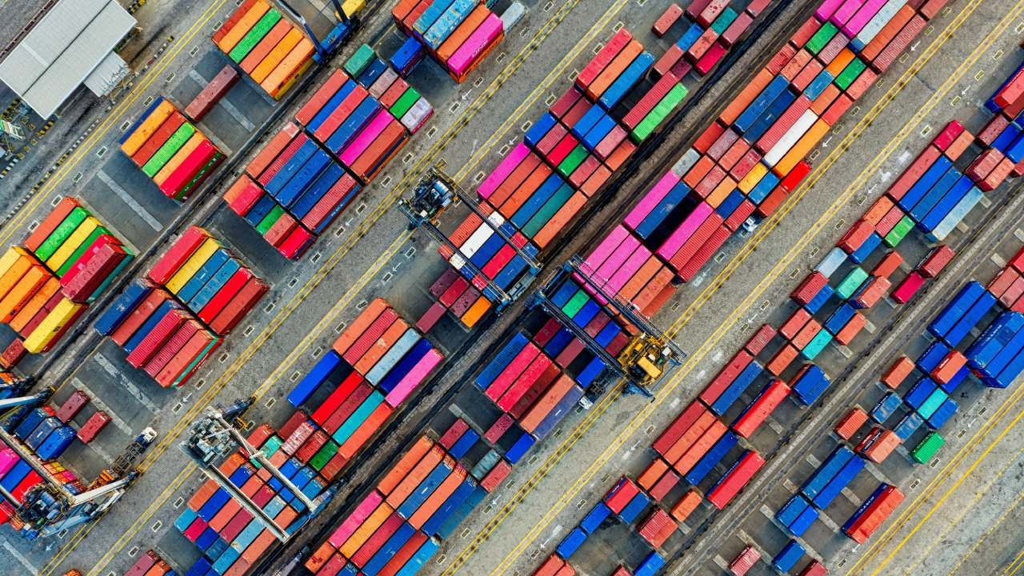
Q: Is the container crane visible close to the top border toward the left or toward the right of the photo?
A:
left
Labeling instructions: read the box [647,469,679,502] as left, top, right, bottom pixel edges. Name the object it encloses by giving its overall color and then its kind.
red shipping container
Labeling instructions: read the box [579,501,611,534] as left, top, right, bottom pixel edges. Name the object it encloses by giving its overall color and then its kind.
blue shipping container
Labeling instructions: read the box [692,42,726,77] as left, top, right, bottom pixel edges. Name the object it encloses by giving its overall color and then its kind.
red shipping container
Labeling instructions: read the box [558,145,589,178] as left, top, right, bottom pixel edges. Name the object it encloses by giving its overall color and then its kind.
green shipping container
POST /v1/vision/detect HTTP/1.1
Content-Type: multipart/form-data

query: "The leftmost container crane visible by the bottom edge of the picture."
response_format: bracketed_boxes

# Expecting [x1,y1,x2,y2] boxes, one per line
[0,381,149,549]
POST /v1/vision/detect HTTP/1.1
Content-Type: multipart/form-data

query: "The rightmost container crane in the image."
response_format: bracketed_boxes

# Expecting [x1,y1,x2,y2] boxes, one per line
[525,251,695,405]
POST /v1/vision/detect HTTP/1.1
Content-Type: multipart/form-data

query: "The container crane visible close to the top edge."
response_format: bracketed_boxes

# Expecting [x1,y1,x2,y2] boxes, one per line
[278,0,359,63]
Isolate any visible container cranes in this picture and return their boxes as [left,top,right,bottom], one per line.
[0,381,149,549]
[389,159,547,314]
[278,0,359,63]
[169,386,352,545]
[525,251,695,405]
